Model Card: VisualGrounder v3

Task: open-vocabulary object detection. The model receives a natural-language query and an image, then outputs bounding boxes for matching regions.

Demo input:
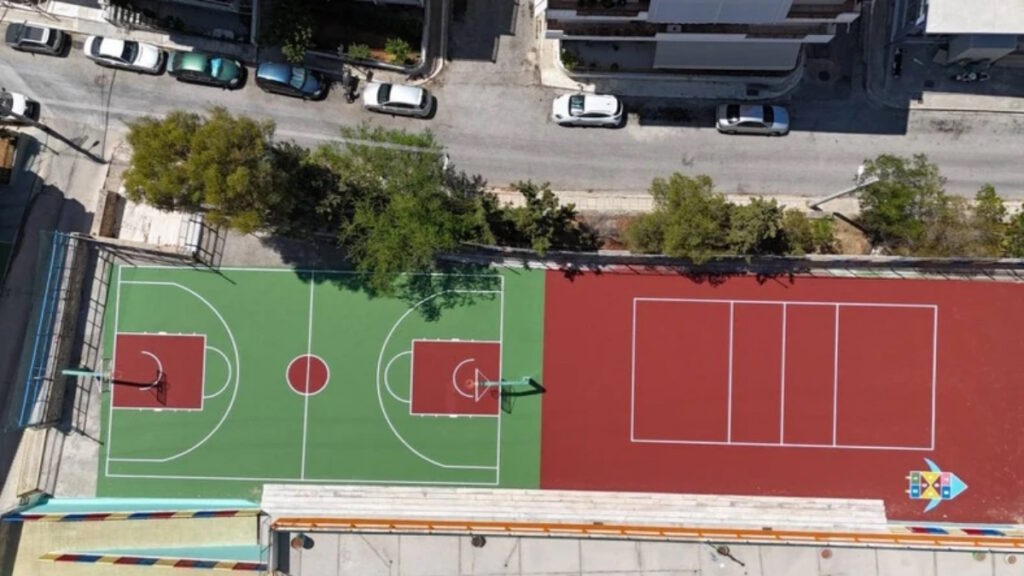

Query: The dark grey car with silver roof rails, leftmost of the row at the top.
[2,16,71,58]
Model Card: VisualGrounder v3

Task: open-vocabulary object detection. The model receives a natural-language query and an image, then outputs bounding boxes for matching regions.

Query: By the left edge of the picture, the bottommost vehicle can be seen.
[0,88,37,125]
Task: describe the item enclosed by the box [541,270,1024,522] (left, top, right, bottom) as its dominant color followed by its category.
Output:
red sports court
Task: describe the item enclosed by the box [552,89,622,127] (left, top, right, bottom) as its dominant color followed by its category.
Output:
white car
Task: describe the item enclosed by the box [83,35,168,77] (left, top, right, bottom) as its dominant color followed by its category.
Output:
white car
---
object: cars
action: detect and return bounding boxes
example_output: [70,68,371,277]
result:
[552,89,622,127]
[717,101,786,137]
[83,35,168,77]
[2,16,71,58]
[167,48,247,89]
[0,88,37,125]
[364,78,433,118]
[255,60,327,101]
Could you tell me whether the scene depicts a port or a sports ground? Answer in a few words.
sports ground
